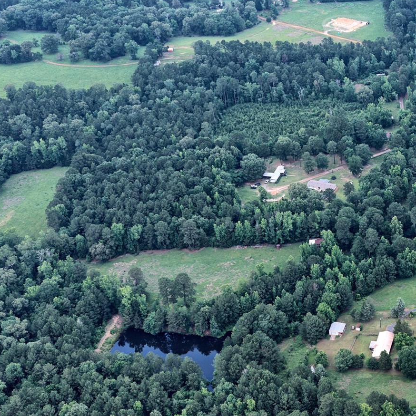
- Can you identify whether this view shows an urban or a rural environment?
rural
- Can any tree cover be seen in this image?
Yes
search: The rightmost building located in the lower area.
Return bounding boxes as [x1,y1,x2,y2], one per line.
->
[367,330,394,360]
